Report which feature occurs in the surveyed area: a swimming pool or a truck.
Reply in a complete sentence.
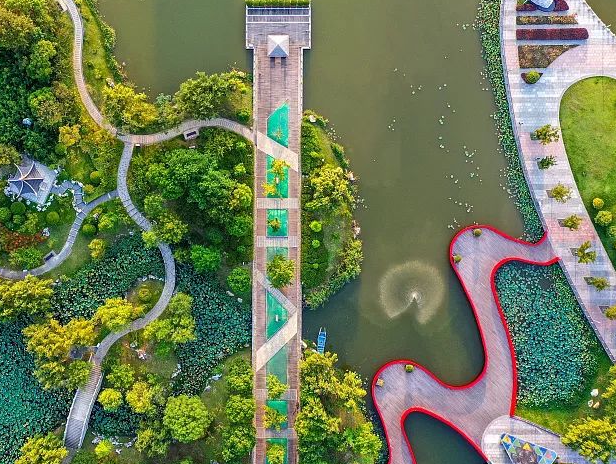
The image shows a swimming pool.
